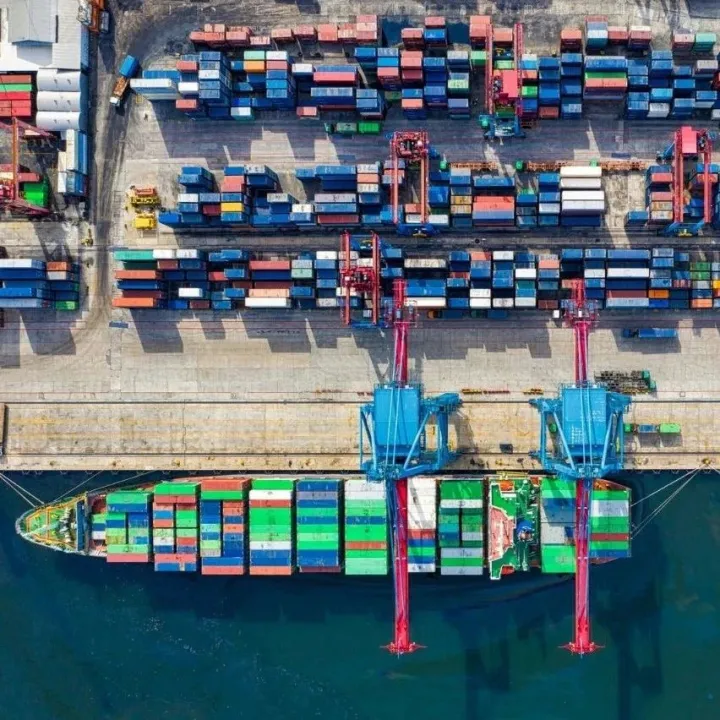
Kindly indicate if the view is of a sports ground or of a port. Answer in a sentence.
This image shows a port.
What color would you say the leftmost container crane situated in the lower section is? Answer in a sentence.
From above, the leftmost container crane situated in the lower section appears blue.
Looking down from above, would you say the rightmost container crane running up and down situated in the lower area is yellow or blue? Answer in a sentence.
The rightmost container crane running up and down situated in the lower area looks blue in the image.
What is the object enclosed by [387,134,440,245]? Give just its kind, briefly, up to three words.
crane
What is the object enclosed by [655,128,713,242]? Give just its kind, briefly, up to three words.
crane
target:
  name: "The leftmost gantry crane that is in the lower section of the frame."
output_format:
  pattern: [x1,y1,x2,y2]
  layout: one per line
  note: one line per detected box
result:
[361,284,477,658]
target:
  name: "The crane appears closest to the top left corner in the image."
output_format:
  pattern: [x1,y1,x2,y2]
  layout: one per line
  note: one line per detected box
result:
[0,116,64,229]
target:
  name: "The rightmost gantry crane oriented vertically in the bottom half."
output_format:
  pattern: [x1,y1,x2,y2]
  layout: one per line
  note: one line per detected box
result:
[530,283,635,658]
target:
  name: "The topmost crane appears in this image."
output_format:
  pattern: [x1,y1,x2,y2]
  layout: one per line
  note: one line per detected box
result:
[484,25,529,143]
